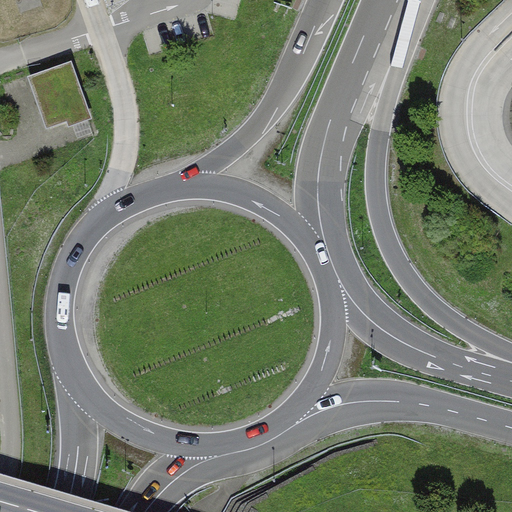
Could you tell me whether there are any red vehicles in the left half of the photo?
Yes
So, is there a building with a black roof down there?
No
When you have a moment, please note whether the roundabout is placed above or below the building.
below it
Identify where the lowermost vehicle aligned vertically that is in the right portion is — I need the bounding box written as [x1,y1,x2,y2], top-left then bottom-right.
[316,243,328,264]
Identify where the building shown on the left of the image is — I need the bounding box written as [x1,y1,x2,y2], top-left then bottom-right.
[28,61,91,128]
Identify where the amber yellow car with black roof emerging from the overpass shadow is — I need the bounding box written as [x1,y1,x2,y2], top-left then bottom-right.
[142,481,161,502]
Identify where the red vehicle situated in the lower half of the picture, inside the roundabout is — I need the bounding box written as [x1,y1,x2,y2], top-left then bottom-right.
[246,424,268,438]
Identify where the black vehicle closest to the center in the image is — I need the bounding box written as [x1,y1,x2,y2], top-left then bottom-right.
[114,196,135,210]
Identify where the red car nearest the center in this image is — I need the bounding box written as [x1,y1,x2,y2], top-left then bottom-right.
[180,166,200,180]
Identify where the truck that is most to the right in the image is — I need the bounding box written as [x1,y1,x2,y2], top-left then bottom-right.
[392,0,421,68]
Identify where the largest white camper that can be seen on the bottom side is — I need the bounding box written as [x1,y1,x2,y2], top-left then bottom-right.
[56,293,70,330]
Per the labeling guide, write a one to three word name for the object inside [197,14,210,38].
vehicle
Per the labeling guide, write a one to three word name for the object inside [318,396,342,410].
car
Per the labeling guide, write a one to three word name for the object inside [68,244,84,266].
car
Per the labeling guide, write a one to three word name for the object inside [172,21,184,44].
vehicle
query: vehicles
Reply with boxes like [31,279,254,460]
[114,196,135,210]
[318,396,342,410]
[167,456,186,476]
[316,243,328,264]
[294,31,308,54]
[180,166,200,180]
[68,244,84,266]
[392,0,421,68]
[87,0,99,8]
[56,293,70,330]
[172,21,184,44]
[246,424,268,438]
[142,481,161,502]
[197,14,210,38]
[156,22,170,44]
[176,435,199,446]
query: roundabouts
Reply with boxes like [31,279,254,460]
[45,171,348,460]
